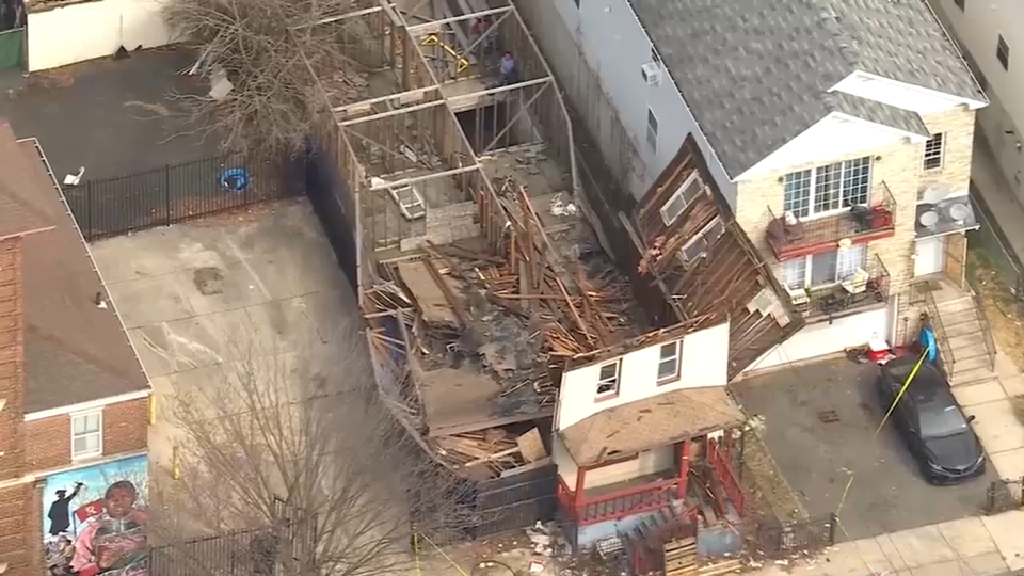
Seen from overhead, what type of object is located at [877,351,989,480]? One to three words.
car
